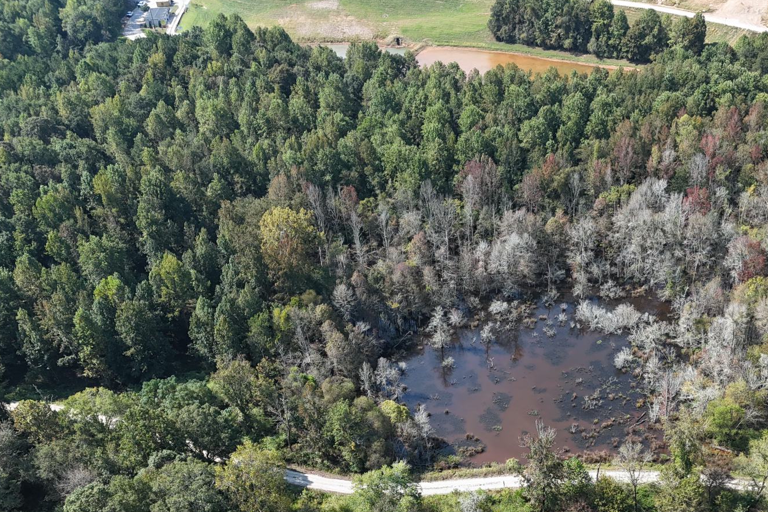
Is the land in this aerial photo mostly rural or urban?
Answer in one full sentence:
The area is rural.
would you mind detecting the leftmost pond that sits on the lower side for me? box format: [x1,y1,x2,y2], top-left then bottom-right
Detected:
[381,288,679,465]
